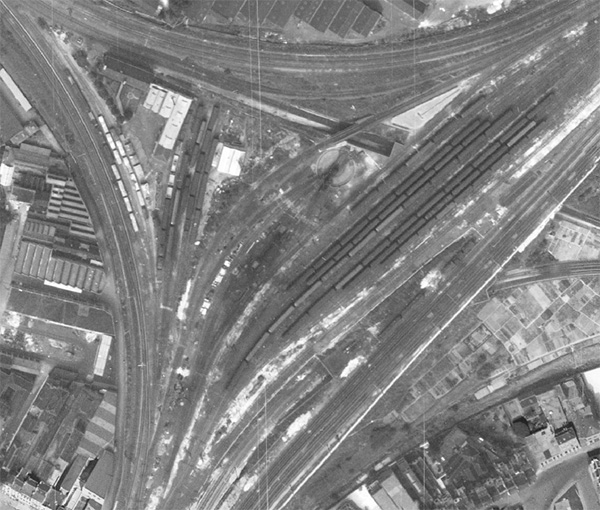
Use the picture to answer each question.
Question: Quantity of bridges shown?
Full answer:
Altogether the scene contains 1 bridge.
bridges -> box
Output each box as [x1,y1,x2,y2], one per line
[306,101,398,158]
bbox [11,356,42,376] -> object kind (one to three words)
shed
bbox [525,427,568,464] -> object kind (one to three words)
house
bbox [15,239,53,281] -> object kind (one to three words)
building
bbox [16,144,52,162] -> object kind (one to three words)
building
